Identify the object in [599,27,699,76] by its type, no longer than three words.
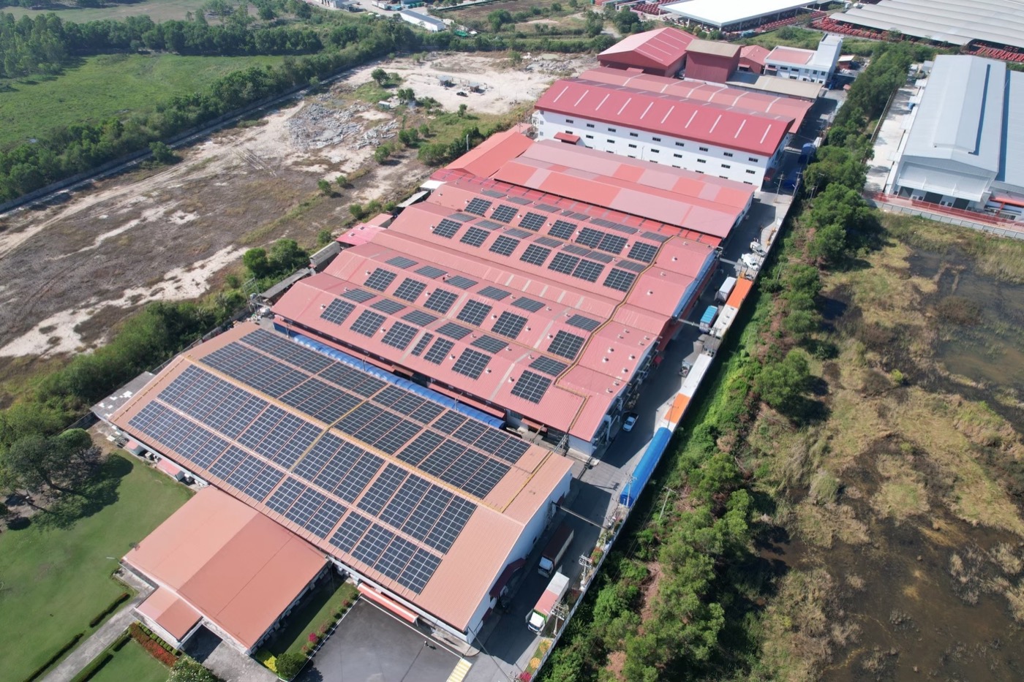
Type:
barn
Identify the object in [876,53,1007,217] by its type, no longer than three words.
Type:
warehouse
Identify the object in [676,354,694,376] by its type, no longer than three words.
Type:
vehicle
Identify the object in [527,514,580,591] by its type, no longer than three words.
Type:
truck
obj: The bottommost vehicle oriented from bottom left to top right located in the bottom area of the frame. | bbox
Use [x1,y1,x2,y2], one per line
[525,562,576,640]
